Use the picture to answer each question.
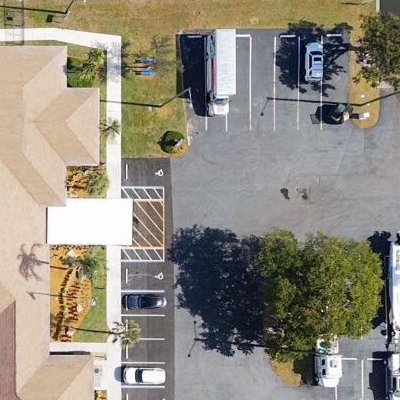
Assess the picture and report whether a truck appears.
Yes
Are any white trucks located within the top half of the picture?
Yes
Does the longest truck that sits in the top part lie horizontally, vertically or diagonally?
vertically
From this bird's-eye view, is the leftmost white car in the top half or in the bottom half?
bottom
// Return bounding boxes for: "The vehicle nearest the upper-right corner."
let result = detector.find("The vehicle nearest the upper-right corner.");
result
[303,42,327,82]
